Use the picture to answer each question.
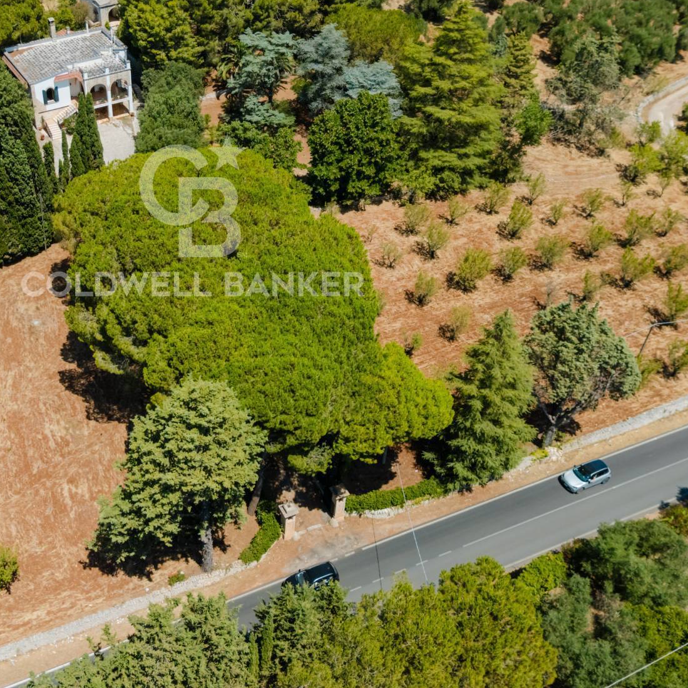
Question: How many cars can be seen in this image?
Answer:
2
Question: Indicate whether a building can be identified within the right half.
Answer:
No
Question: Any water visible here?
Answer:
No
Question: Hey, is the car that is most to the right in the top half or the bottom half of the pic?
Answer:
bottom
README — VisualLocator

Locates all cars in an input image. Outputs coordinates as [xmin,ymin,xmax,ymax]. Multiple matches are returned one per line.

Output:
[558,458,615,494]
[277,559,342,598]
